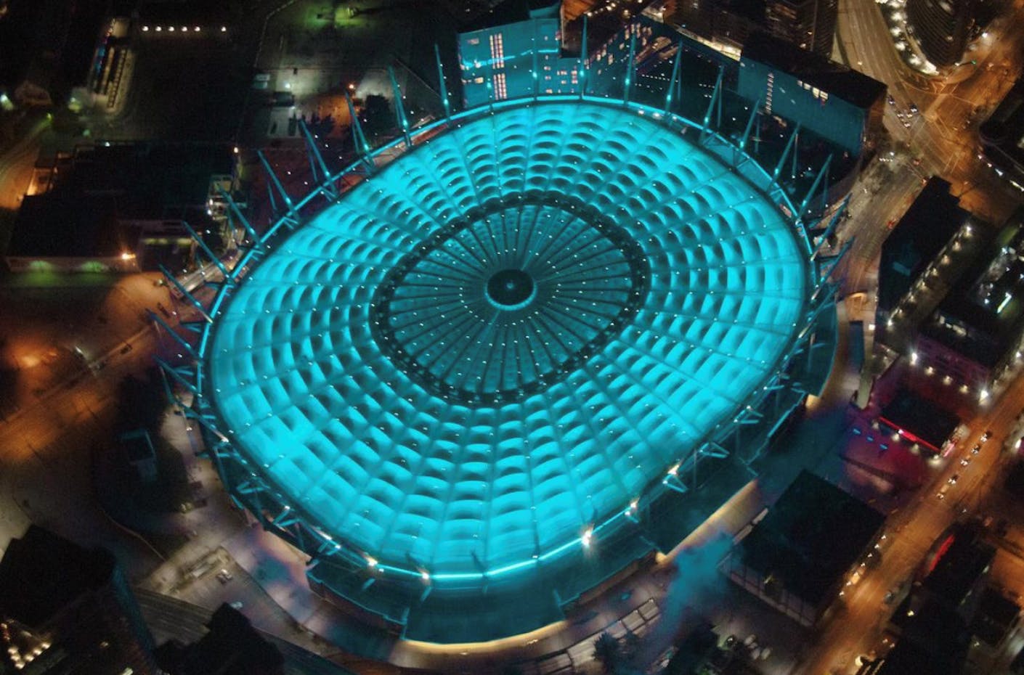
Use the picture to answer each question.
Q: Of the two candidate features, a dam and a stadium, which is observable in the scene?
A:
stadium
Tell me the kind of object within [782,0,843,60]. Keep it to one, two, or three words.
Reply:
building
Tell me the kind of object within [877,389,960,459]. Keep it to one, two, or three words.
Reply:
building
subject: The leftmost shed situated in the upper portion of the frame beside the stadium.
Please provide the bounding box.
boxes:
[7,193,145,271]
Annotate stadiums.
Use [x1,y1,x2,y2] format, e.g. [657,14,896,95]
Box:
[149,20,858,651]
